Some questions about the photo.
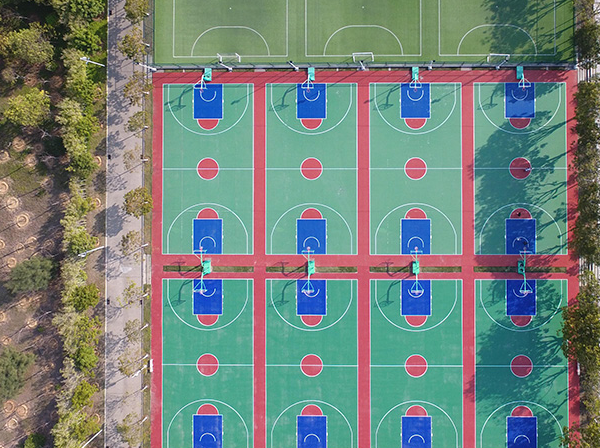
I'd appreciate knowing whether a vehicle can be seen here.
No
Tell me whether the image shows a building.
No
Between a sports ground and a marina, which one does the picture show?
sports ground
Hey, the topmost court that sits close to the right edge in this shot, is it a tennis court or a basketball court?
basketball court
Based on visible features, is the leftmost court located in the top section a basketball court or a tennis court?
basketball court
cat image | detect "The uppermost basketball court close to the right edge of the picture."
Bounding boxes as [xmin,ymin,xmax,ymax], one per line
[467,68,579,267]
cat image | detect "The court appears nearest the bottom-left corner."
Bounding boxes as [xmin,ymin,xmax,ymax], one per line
[150,267,260,448]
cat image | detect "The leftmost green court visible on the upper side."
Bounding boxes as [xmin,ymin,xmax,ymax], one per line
[150,69,260,267]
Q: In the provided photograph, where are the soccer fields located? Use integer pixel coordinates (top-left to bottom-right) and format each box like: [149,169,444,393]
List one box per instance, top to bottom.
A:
[155,0,297,64]
[297,0,430,63]
[430,0,576,63]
